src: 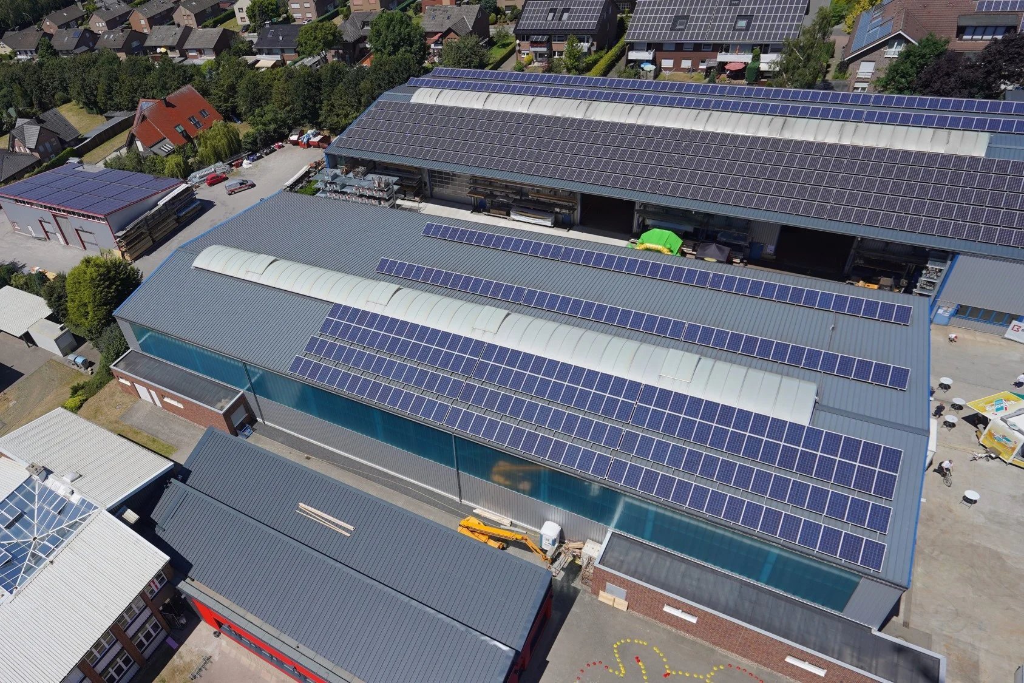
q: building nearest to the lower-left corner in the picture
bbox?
[0,407,188,683]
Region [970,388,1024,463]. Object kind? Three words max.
trailer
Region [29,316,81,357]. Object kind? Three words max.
shed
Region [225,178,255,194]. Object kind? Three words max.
vehicle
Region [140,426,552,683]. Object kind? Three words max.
building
